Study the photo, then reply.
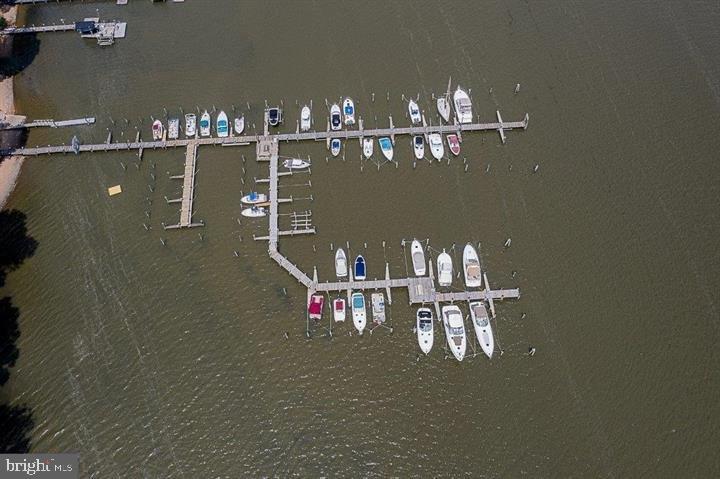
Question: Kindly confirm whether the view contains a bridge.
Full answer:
No, this view has no bridge in it.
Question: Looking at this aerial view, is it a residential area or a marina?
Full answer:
The picture captures a marina.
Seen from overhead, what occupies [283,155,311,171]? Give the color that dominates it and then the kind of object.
white boat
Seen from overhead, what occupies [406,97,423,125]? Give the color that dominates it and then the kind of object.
white boat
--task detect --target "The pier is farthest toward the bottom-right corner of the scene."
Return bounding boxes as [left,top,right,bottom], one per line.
[306,242,520,353]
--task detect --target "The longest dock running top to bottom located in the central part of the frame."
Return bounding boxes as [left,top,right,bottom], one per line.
[252,140,316,290]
